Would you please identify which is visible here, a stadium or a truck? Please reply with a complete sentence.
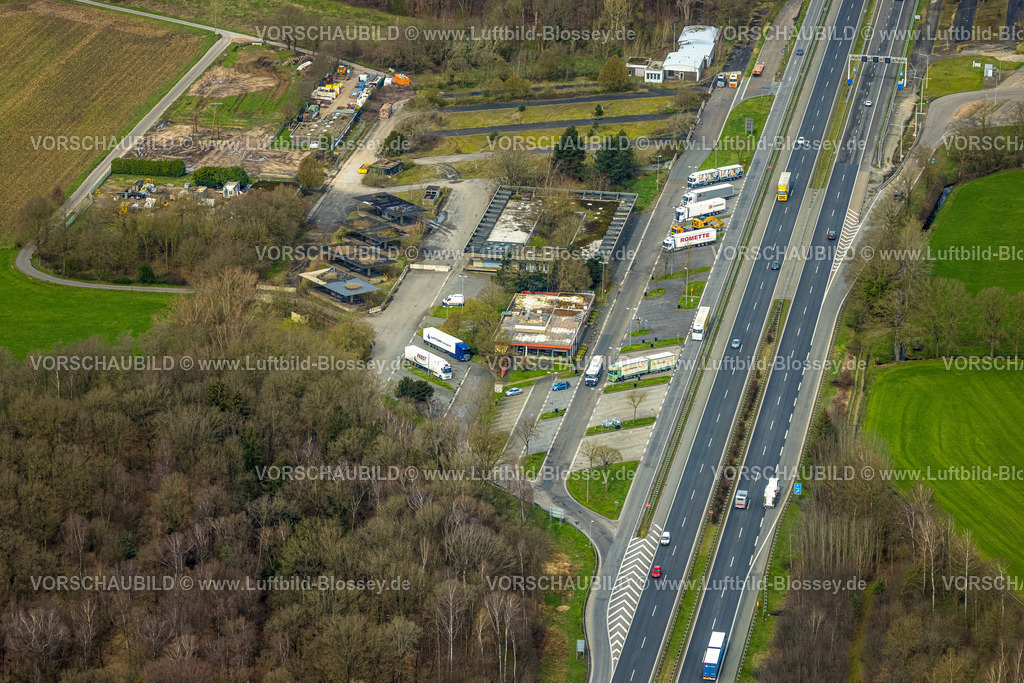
Of the two, only a truck appears.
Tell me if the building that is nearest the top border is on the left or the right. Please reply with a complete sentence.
The building that is nearest the top border is on the right side of the image.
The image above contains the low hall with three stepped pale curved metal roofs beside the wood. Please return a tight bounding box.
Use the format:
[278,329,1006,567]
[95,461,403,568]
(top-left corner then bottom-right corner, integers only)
[625,25,718,83]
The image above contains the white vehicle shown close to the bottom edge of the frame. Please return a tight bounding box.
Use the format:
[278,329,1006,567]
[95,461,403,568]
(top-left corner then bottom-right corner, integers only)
[698,633,722,680]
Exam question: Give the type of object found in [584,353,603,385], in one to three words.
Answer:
vehicle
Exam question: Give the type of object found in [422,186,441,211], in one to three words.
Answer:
building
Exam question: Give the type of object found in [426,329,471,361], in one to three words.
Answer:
truck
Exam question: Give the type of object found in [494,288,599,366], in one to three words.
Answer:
building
